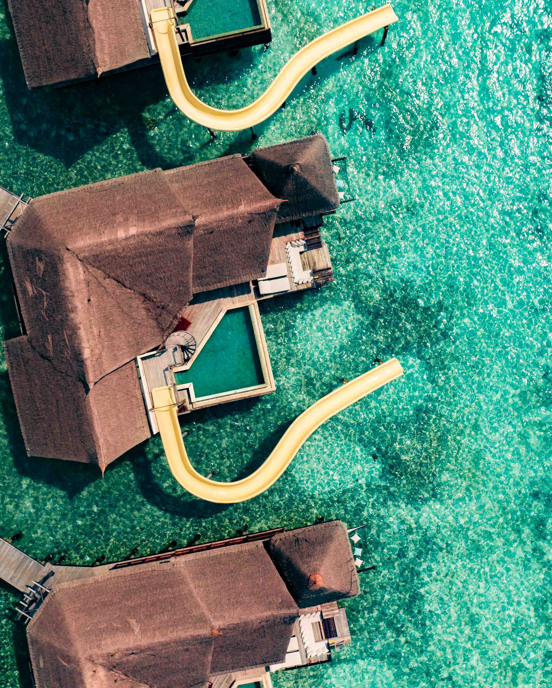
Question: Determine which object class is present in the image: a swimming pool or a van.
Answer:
swimming pool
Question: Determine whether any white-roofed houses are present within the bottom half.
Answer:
No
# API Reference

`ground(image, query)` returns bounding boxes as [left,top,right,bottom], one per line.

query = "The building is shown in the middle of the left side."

[1,153,287,475]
